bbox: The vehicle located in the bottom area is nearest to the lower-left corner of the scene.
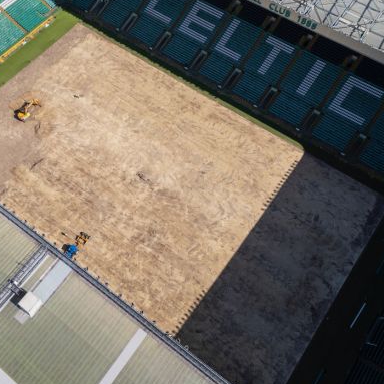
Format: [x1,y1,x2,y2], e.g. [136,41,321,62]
[64,239,80,259]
